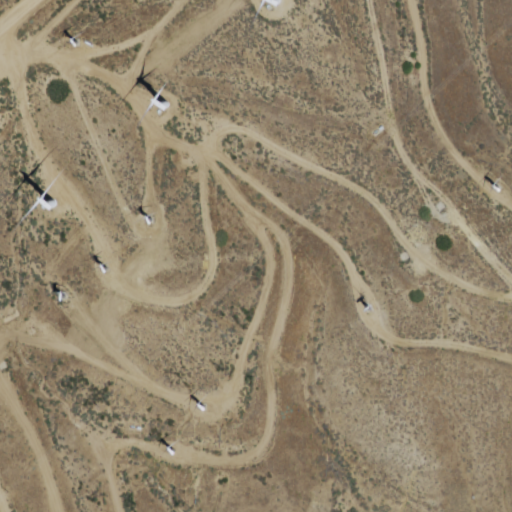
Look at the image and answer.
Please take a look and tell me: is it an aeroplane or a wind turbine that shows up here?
wind turbine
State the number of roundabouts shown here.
zero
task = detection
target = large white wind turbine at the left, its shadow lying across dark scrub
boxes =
[23,169,64,222]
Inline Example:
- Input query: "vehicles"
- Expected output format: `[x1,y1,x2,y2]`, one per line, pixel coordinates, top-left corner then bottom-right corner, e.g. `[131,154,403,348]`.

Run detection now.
[373,124,386,134]
[84,40,94,47]
[130,424,142,431]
